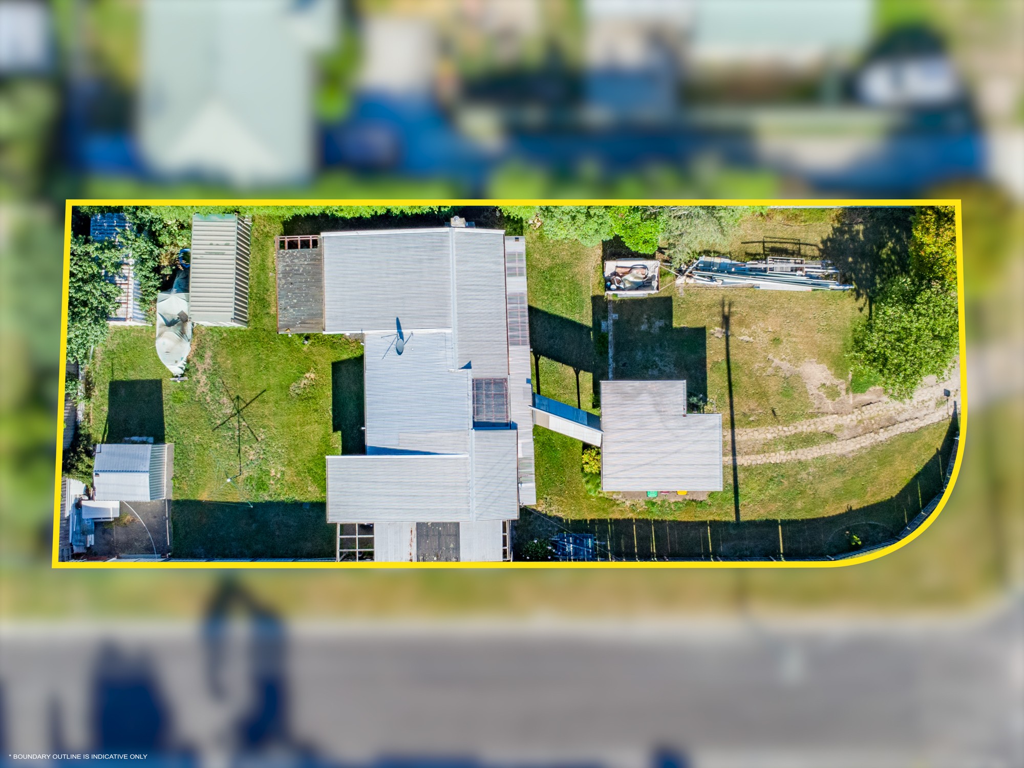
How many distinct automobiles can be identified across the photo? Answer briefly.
two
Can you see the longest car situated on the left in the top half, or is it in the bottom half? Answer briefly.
top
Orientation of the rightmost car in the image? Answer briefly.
from side to side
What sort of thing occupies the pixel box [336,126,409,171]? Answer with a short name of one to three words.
car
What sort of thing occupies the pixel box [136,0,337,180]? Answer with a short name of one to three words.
house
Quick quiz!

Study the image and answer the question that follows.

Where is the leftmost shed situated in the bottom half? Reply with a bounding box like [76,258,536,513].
[93,443,167,501]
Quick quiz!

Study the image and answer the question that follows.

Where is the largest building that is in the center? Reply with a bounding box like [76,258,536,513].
[276,217,536,568]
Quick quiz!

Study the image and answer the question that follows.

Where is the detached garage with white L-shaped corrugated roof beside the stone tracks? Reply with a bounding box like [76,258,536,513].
[598,380,723,492]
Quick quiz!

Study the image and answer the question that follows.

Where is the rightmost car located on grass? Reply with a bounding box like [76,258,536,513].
[859,60,962,107]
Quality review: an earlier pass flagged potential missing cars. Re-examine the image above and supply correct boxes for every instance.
[859,60,962,107]
[336,126,409,171]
